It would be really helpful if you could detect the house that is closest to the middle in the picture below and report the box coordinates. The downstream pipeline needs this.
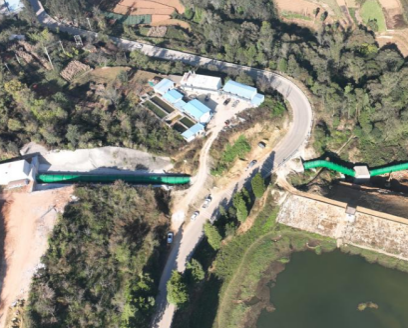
[179,118,209,143]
